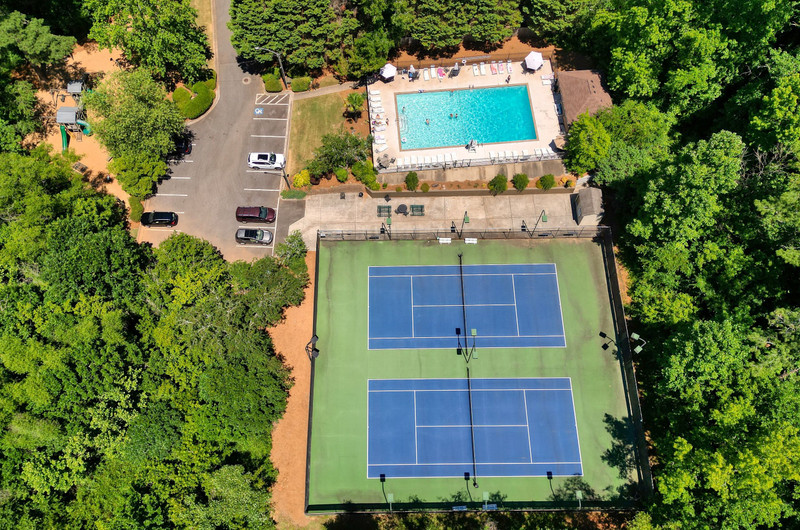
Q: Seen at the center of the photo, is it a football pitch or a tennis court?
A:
tennis court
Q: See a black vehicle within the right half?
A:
No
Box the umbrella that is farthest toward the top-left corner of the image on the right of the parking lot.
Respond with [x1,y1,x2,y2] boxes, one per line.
[377,66,400,87]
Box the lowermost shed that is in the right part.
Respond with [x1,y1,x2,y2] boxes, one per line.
[575,181,610,224]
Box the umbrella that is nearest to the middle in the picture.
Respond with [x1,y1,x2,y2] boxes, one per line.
[377,156,393,173]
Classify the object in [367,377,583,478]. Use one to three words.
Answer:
tennis court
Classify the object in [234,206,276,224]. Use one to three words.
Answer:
car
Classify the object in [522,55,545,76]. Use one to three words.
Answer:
umbrella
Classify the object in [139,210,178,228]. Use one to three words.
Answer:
car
